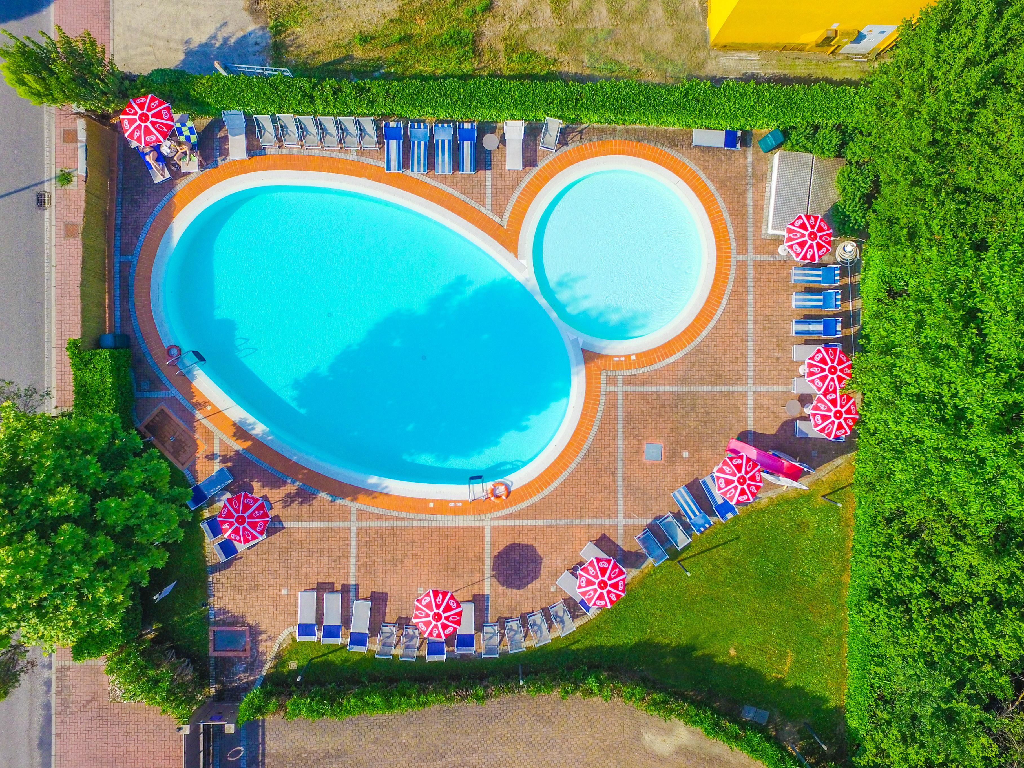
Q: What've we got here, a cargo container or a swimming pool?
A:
swimming pool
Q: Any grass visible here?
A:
Yes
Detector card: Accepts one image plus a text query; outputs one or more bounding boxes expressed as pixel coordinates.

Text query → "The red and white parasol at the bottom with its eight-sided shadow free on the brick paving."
[413,589,462,639]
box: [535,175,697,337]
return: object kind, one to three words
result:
swimming pool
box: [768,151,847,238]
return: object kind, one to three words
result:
building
